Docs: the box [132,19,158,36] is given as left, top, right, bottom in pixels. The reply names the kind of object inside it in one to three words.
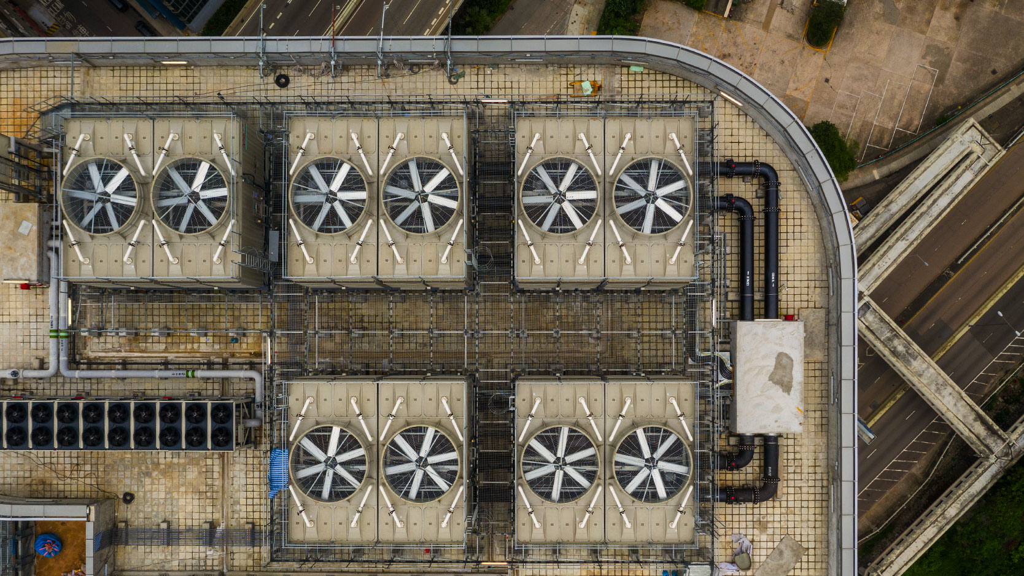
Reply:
car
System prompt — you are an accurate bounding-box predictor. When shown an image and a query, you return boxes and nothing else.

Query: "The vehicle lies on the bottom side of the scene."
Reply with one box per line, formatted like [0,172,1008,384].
[857,411,881,445]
